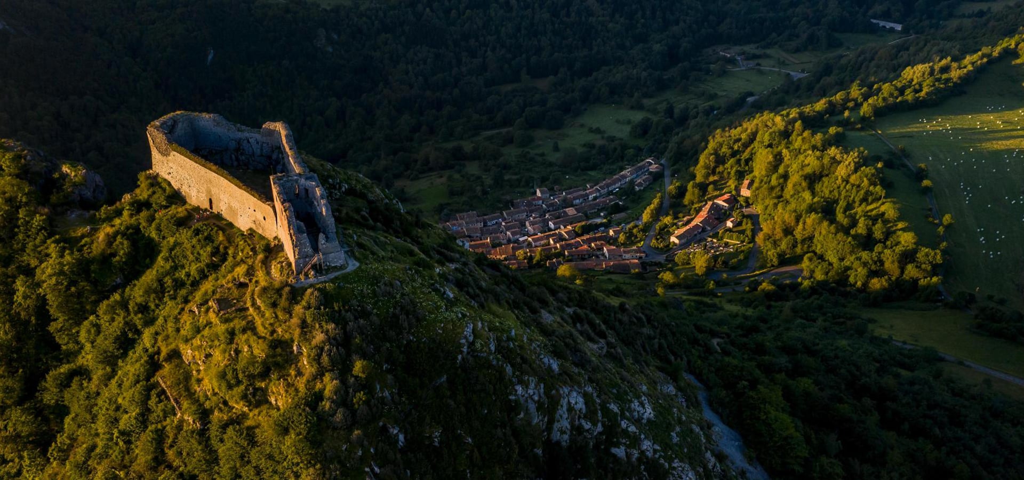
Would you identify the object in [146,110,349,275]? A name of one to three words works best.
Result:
building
